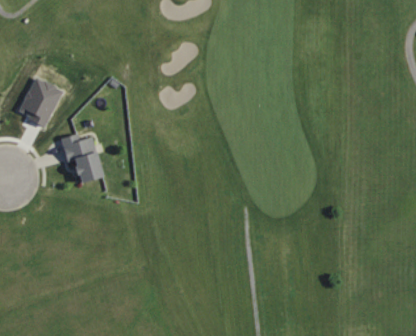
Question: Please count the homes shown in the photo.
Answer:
2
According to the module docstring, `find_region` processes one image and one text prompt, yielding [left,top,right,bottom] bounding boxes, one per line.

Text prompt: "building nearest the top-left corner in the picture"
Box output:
[21,79,64,132]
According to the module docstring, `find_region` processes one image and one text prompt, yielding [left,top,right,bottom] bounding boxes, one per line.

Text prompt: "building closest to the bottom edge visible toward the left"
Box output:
[62,135,101,182]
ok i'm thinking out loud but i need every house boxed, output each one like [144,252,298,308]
[21,79,64,132]
[62,135,101,182]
